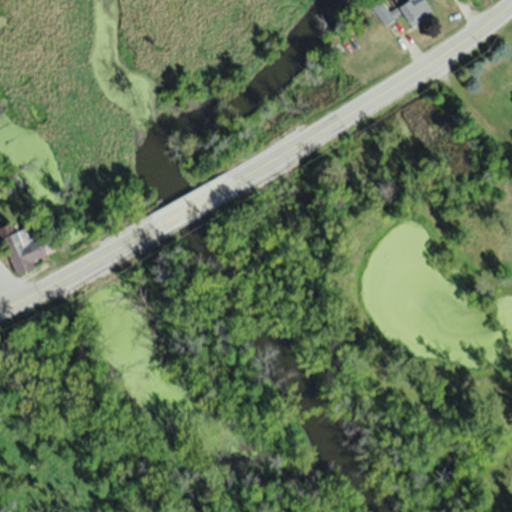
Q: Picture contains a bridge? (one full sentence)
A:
Yes, a bridge appears in the view.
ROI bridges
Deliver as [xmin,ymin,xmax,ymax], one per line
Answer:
[140,172,240,244]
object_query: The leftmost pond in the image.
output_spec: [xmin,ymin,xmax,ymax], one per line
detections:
[0,114,66,204]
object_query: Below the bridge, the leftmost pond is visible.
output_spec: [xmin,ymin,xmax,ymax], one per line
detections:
[92,290,188,405]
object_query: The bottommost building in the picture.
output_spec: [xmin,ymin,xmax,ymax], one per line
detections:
[4,232,45,276]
